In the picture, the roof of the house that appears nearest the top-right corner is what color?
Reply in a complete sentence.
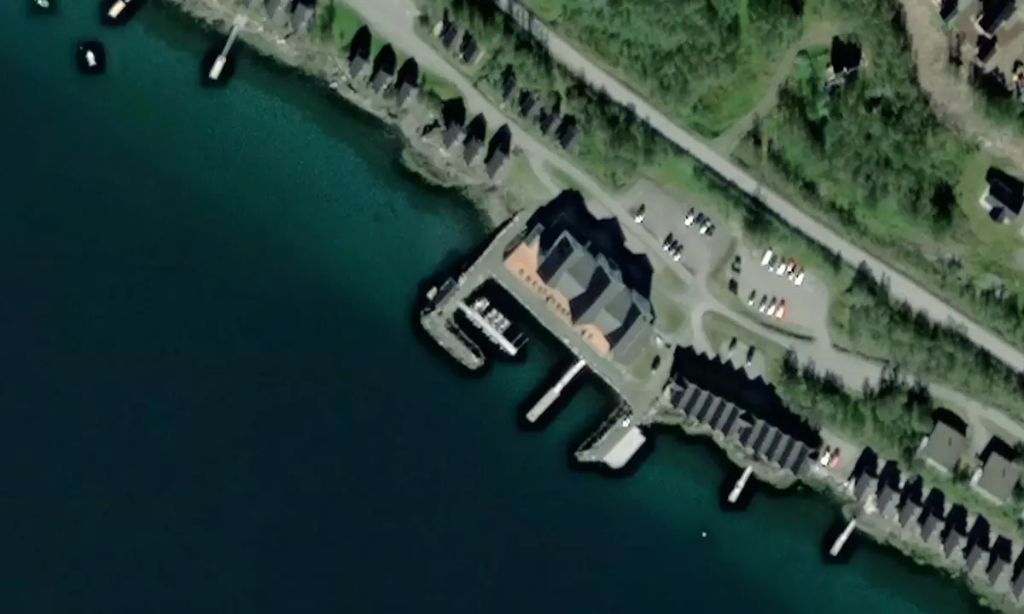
The color of the roof on the house that appears nearest the top-right corner is black.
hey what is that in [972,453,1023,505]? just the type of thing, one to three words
house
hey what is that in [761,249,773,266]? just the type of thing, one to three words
vehicle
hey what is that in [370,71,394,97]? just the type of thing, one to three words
building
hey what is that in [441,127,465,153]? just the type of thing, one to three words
building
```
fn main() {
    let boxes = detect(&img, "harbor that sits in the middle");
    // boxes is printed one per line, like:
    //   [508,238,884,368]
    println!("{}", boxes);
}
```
[419,217,662,464]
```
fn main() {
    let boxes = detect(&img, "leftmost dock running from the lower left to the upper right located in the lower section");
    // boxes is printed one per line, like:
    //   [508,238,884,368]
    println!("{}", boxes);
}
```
[526,359,585,422]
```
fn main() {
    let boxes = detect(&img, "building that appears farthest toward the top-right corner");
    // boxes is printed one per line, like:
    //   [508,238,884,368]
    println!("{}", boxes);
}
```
[971,0,1016,36]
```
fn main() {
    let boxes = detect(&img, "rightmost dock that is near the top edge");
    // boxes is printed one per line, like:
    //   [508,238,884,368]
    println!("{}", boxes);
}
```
[210,29,235,81]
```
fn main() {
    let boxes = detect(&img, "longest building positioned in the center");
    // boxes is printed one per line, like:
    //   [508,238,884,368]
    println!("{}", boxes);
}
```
[530,218,658,366]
